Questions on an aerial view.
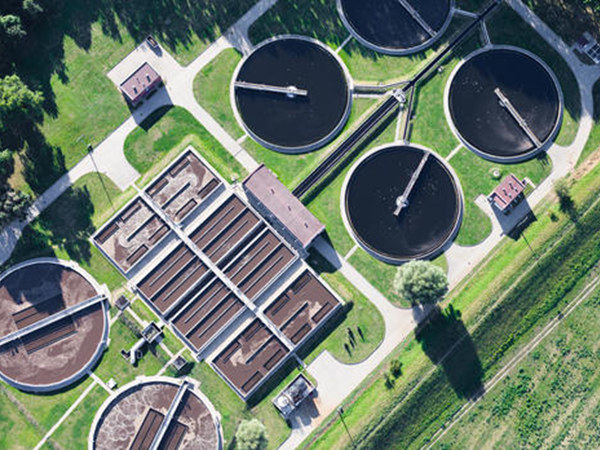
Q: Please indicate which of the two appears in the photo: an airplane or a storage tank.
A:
storage tank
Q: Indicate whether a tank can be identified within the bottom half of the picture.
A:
Yes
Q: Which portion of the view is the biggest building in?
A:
center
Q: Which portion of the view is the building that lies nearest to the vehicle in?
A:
top left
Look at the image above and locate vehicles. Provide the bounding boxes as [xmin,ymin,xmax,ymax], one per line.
[145,35,163,54]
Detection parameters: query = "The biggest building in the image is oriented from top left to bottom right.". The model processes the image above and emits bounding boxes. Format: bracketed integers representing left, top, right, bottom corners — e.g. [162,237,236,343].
[243,163,325,248]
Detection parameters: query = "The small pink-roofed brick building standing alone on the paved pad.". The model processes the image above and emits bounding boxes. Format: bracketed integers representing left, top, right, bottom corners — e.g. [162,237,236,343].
[118,62,161,103]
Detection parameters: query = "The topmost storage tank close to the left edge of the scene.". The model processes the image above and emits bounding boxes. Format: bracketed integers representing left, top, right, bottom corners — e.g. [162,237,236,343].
[0,257,120,398]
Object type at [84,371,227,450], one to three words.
storage tank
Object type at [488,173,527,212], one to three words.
building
